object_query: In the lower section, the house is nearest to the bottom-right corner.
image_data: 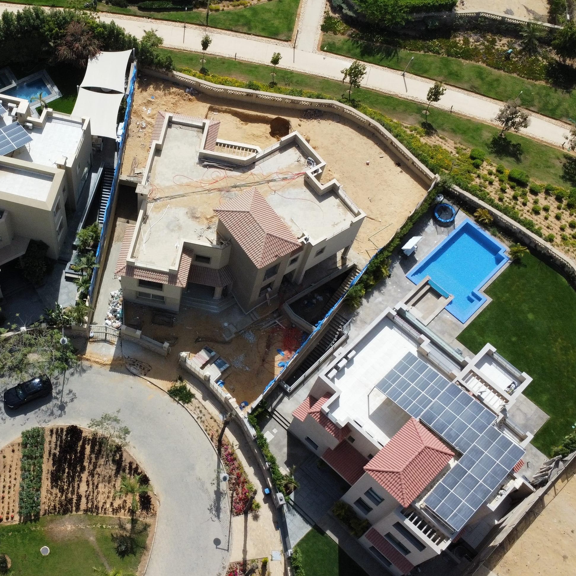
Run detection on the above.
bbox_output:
[285,305,533,576]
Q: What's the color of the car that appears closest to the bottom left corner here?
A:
black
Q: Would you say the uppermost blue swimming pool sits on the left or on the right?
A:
left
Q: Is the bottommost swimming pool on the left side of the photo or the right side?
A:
right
